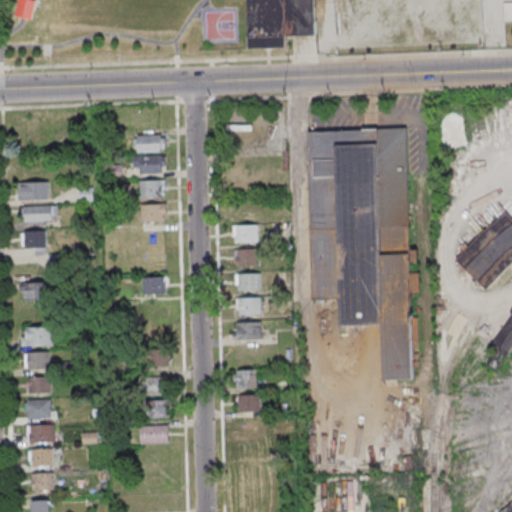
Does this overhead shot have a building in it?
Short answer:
Yes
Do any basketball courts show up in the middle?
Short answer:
No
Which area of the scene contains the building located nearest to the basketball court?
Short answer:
top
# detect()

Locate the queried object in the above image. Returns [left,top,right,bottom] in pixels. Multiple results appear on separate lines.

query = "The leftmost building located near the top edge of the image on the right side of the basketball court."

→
[247,0,314,49]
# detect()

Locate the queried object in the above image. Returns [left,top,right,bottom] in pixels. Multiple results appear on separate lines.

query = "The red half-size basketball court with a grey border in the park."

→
[203,8,238,43]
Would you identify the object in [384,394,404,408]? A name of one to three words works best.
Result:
vehicle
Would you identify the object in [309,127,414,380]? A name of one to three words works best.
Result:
building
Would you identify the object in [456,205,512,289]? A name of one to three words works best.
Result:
shed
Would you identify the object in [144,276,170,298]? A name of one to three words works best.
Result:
house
